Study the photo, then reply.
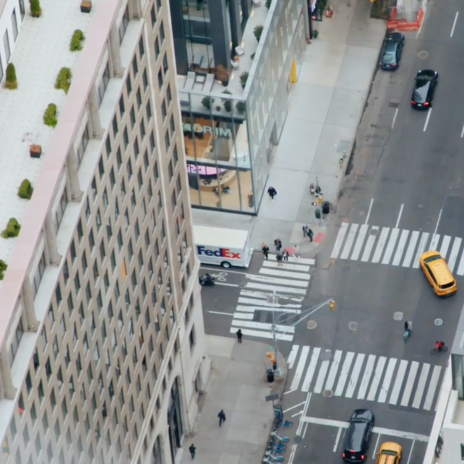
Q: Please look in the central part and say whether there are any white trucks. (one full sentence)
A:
Yes, a white truck shows up in the central part.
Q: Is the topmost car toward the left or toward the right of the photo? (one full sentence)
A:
You can find the topmost car on the right side of the picture.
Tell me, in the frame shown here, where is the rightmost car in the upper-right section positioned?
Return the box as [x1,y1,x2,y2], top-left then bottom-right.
[411,64,442,107]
